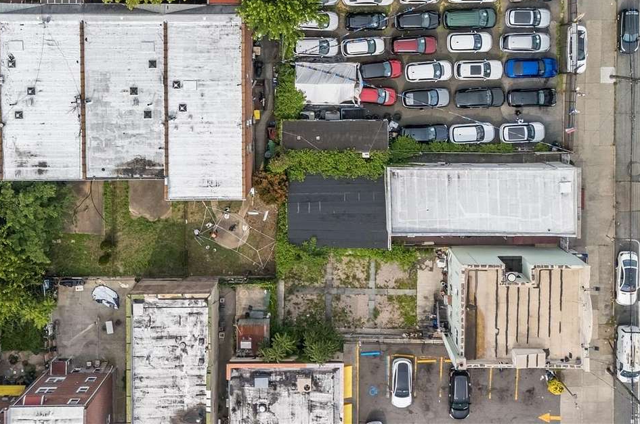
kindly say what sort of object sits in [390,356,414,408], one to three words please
car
